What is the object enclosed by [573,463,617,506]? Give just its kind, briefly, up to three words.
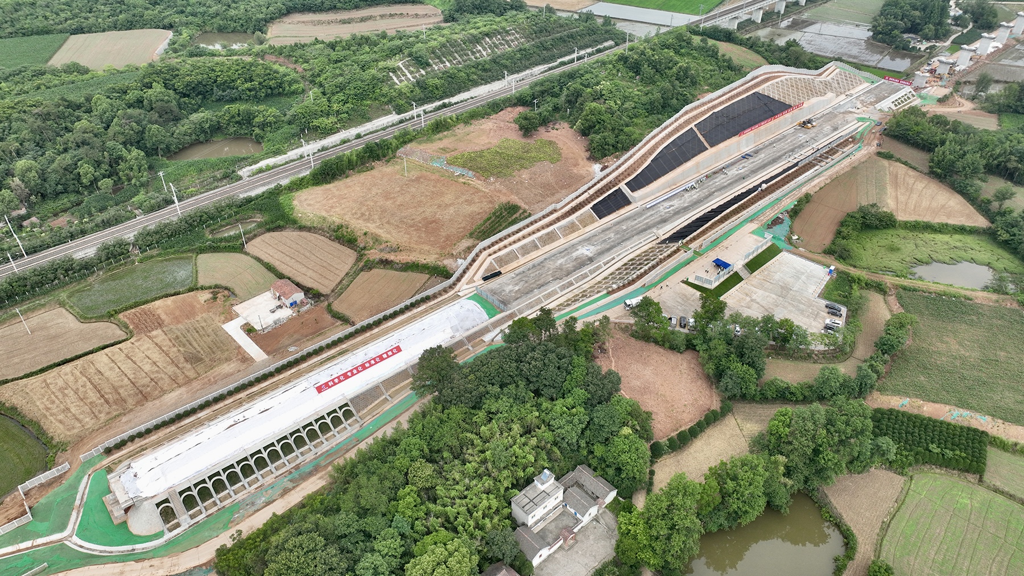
house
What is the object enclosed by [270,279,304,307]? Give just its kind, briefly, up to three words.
house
